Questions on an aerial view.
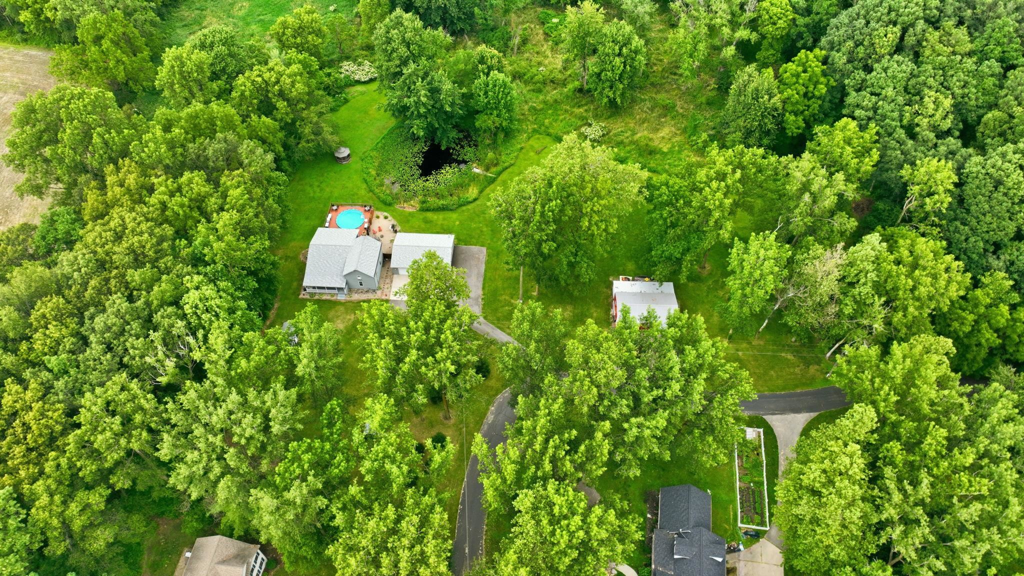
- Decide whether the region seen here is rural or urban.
rural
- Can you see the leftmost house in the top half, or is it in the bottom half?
bottom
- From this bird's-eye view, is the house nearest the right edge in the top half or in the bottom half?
bottom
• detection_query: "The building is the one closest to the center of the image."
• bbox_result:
[390,233,456,276]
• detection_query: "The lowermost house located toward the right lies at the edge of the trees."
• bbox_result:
[648,485,730,576]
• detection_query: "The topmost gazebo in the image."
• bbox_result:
[331,140,350,159]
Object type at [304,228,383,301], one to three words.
house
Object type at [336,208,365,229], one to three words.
swimming pool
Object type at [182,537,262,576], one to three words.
house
